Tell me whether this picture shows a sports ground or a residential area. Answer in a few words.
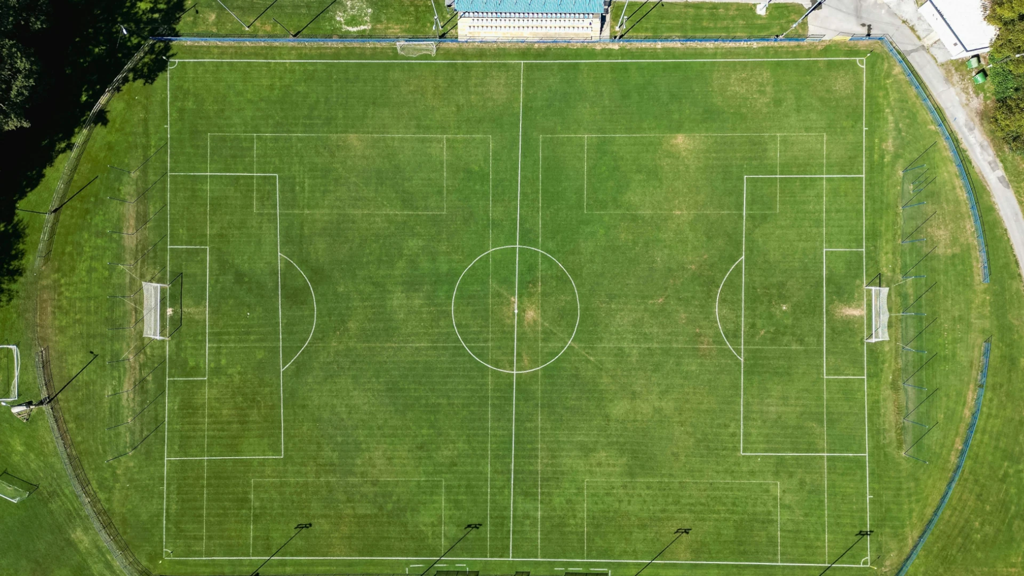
sports ground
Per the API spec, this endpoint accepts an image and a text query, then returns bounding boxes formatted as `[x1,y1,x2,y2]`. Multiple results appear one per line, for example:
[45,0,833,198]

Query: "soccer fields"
[151,50,881,576]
